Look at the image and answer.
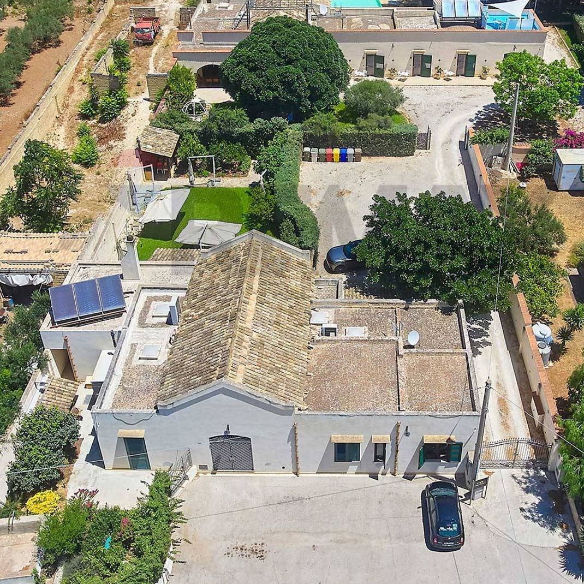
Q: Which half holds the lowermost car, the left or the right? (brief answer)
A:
right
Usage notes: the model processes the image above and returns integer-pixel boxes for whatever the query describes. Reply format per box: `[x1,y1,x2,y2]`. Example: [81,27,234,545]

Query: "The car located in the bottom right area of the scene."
[420,480,467,553]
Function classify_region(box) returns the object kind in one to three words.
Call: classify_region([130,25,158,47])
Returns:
truck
